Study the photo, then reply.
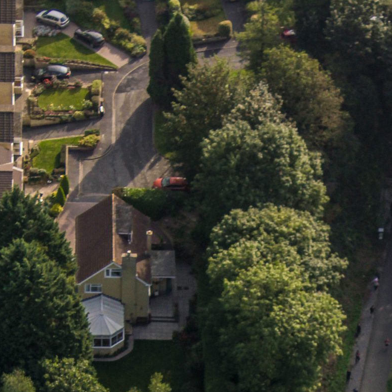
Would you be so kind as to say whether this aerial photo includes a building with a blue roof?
No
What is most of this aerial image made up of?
trees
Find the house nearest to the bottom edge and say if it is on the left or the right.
left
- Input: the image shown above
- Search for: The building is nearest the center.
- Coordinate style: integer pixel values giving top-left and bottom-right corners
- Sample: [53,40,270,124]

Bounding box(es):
[74,199,181,344]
